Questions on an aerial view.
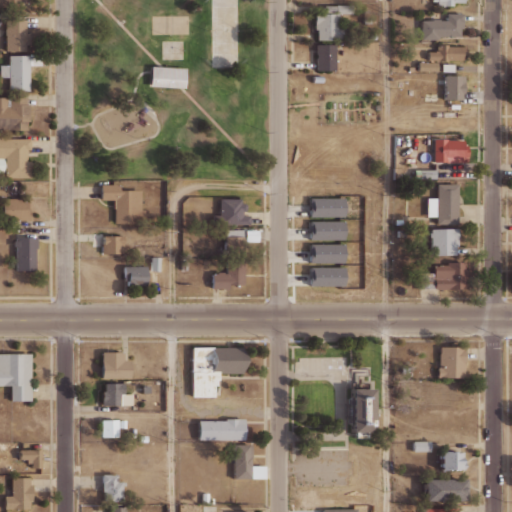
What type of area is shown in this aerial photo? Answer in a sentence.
This looks like a residential area.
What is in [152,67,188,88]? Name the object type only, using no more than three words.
building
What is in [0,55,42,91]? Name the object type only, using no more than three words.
house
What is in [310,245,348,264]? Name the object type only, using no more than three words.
house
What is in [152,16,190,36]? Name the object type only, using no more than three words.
sports court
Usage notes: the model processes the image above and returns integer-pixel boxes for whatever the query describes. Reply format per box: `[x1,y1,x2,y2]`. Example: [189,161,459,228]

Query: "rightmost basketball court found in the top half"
[212,0,238,67]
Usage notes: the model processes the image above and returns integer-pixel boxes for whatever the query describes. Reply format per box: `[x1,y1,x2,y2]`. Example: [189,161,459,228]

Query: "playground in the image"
[94,105,158,146]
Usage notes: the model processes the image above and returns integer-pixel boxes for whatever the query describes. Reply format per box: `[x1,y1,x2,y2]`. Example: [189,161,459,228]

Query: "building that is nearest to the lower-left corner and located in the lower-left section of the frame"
[6,478,35,512]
